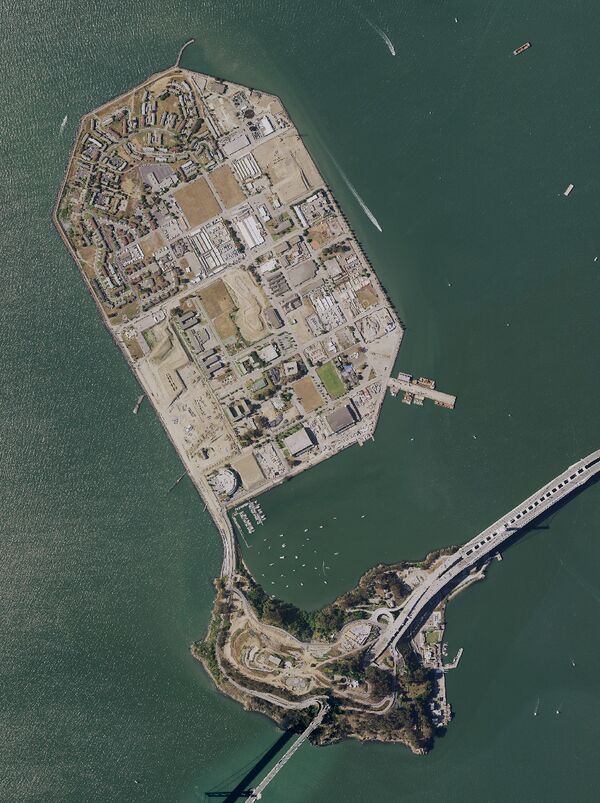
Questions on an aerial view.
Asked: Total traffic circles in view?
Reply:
0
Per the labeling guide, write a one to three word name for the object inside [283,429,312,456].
hangar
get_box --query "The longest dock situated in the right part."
[389,378,456,403]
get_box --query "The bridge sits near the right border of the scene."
[370,449,600,661]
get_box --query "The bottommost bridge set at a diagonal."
[244,700,330,803]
